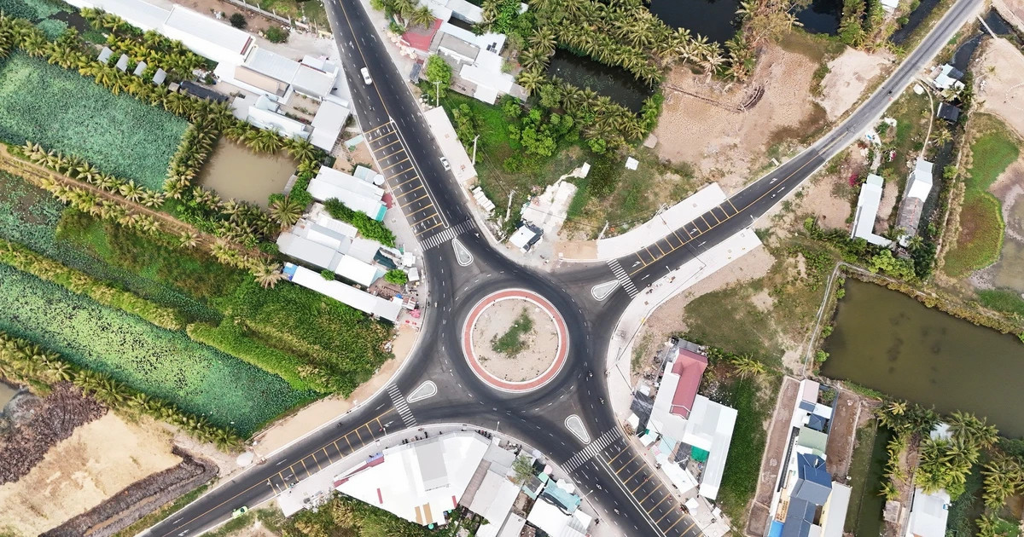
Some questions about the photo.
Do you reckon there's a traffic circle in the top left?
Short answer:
No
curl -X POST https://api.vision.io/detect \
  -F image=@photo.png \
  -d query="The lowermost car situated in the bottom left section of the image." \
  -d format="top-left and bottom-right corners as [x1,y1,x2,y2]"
[229,505,250,521]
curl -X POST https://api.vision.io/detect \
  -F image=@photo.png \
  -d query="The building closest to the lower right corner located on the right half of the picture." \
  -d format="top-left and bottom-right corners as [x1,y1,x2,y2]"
[903,487,950,537]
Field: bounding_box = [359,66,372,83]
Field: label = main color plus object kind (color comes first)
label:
white vehicle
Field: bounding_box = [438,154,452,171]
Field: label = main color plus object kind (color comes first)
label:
white car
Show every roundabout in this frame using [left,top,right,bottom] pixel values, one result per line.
[461,288,568,395]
